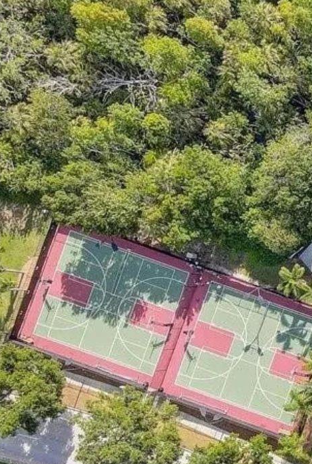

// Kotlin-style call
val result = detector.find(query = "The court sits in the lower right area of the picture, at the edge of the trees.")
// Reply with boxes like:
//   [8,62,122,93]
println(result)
[159,273,312,432]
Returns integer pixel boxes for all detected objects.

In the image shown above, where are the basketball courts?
[18,227,204,394]
[159,273,312,432]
